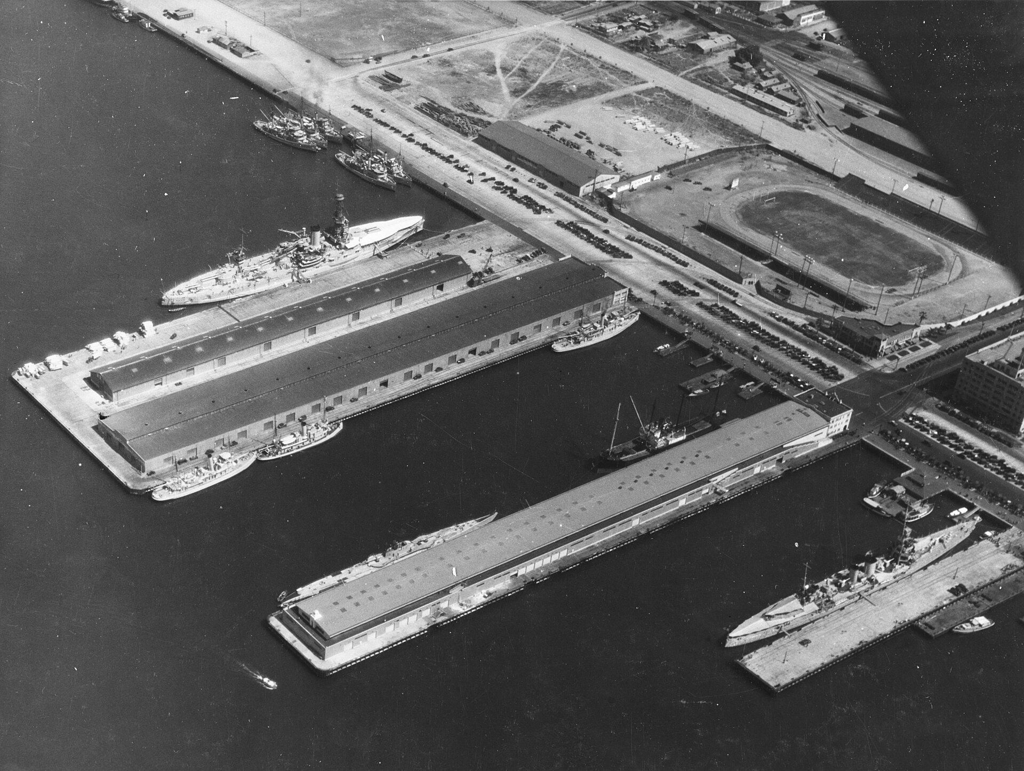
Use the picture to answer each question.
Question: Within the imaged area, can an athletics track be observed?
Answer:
Yes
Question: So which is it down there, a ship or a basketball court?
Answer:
ship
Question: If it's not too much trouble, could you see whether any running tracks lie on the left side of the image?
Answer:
No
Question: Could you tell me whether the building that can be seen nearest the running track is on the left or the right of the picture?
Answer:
right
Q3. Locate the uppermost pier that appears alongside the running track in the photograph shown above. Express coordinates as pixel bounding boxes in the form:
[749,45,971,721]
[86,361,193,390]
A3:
[12,219,642,493]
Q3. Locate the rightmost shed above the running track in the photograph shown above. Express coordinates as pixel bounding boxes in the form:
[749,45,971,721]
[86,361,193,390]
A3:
[848,114,933,171]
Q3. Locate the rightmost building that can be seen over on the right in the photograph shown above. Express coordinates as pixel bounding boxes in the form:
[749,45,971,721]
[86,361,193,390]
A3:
[952,325,1024,432]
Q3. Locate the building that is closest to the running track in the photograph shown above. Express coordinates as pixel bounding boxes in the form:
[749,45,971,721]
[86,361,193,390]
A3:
[822,304,930,357]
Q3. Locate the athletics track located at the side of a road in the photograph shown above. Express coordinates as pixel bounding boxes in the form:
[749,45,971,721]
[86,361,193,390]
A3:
[710,186,972,306]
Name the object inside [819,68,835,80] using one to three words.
rail car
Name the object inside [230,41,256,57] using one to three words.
shed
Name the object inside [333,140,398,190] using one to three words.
ship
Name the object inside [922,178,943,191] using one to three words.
rail car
